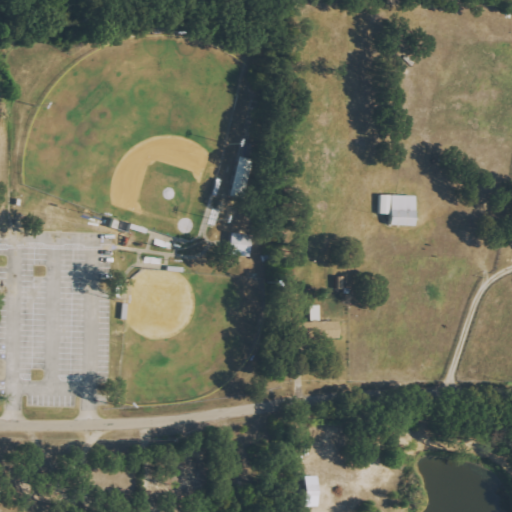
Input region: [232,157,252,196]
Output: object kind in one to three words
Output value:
building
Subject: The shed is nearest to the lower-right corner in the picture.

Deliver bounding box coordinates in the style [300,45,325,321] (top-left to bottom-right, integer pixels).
[304,476,320,508]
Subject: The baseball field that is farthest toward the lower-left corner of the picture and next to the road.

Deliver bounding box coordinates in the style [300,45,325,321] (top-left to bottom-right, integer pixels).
[118,268,262,407]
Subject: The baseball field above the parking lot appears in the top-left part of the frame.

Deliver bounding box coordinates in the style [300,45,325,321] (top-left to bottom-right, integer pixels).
[22,34,244,241]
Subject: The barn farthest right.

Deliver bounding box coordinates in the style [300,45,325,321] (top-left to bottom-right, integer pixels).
[377,194,418,226]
